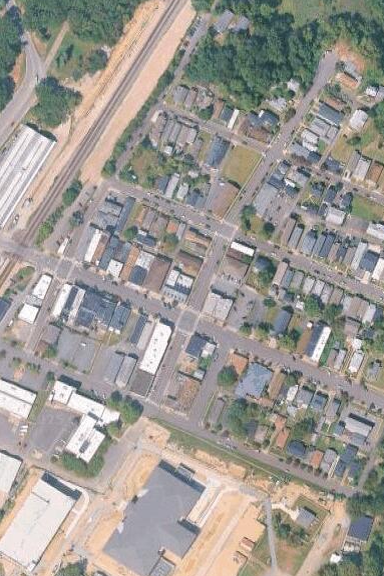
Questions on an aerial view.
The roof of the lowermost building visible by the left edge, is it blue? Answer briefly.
No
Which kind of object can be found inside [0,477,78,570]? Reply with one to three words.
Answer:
building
